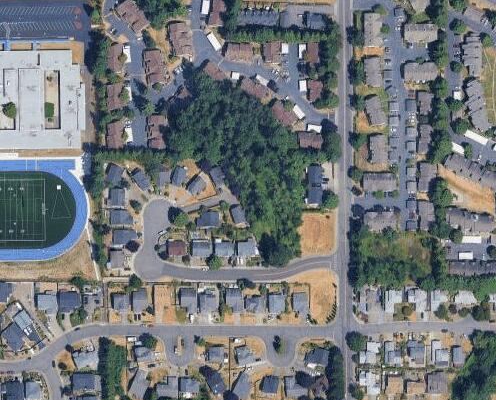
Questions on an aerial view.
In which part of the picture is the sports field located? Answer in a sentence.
Look in the left portion of the view to spot the sports field.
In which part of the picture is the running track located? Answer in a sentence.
The running track is in the left part of the image.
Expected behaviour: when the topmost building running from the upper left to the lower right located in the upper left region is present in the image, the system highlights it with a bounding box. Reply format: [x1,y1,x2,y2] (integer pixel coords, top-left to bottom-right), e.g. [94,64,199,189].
[114,0,148,33]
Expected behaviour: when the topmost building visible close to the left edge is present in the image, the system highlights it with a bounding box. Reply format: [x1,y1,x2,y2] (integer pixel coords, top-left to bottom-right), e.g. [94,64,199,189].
[0,40,85,149]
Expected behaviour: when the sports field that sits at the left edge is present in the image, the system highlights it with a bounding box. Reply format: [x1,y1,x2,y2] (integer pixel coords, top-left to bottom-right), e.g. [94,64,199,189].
[0,171,76,249]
